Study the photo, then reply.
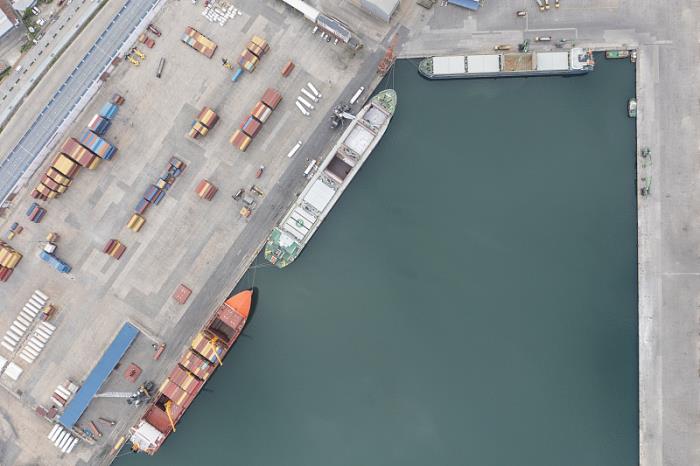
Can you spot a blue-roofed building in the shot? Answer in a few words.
Yes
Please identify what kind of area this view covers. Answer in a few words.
port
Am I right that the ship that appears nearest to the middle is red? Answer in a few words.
No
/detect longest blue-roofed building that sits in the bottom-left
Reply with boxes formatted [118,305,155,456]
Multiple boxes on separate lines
[58,321,142,428]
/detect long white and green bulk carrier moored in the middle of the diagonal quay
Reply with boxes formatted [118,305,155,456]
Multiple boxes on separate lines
[264,89,398,270]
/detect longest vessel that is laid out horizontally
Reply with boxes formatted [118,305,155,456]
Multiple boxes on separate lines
[418,49,595,79]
